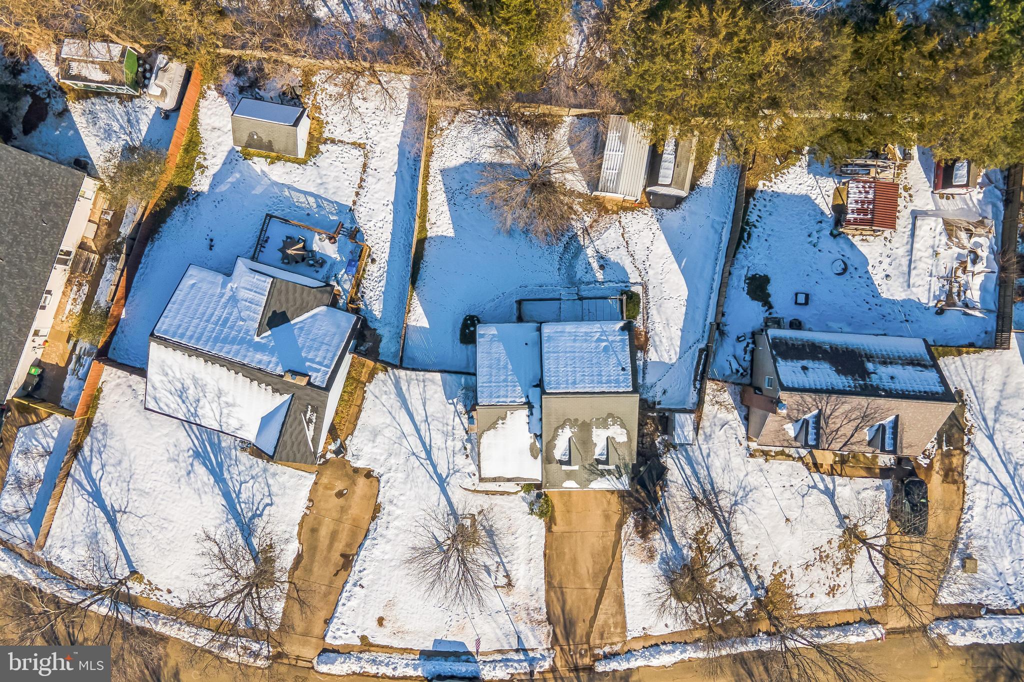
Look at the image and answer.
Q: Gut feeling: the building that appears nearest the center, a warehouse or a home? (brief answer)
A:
home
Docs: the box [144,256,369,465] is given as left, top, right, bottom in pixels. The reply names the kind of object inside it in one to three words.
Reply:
house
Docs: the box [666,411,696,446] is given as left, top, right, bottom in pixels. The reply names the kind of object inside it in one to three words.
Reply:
shed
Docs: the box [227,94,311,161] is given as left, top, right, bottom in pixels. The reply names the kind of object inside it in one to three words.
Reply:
shed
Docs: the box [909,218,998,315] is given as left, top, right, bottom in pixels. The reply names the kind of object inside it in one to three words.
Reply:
greenhouse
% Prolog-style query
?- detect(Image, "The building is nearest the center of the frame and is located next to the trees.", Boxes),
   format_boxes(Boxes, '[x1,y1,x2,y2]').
[467,320,639,492]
